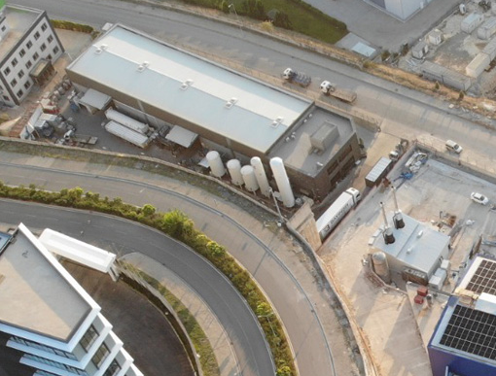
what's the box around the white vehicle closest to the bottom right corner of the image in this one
[468,191,490,205]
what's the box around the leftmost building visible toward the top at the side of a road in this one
[0,0,65,107]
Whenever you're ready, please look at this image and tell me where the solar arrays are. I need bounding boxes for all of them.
[469,260,496,294]
[443,304,496,361]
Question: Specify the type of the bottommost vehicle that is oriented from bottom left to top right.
truck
